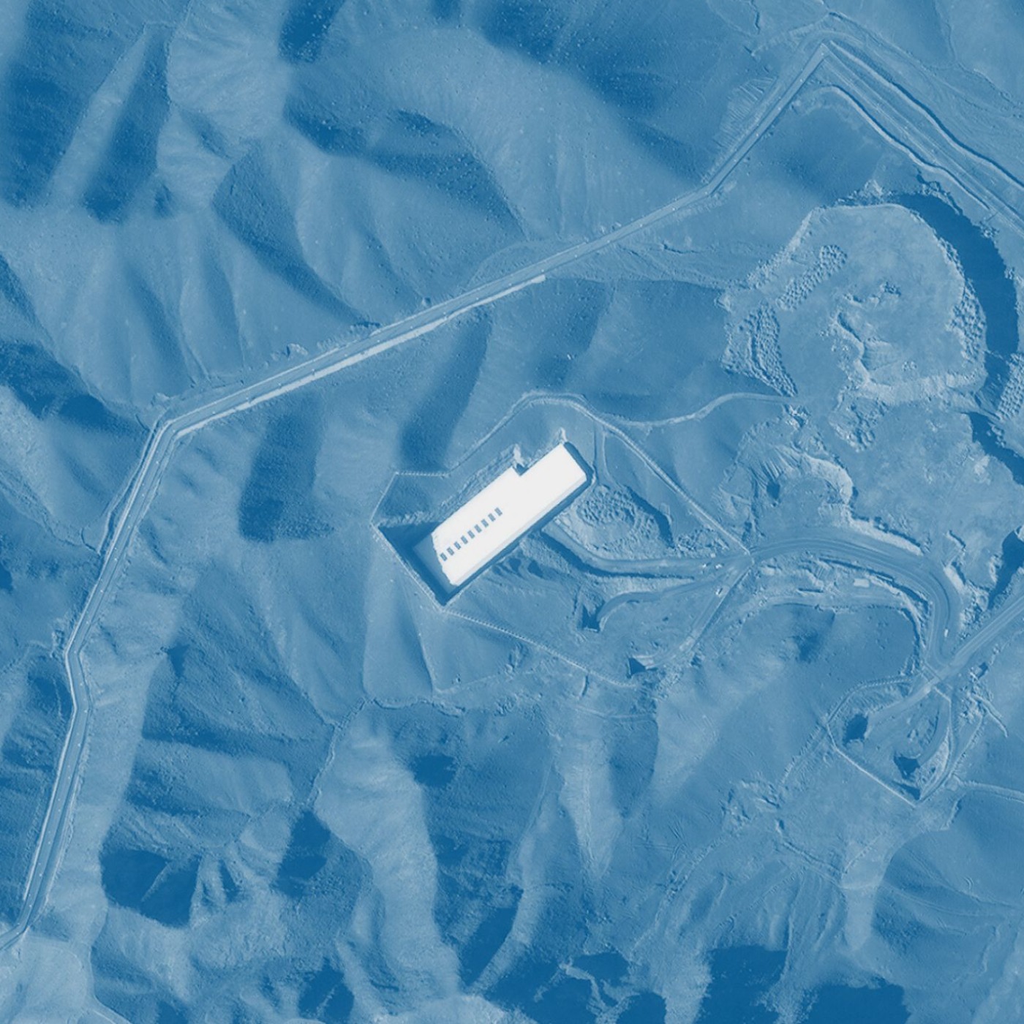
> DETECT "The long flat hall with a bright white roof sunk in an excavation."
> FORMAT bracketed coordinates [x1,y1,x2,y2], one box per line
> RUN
[414,442,587,593]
